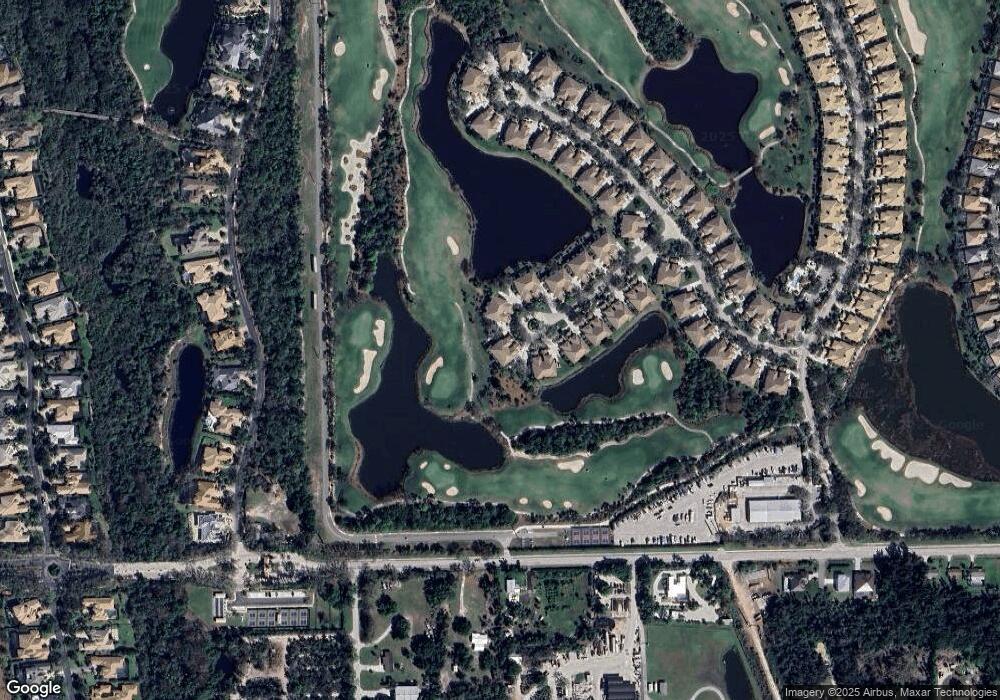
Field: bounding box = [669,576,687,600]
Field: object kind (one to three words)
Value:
building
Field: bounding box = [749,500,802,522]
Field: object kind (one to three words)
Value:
building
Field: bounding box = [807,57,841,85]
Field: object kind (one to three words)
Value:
house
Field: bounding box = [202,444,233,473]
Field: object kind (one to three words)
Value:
house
